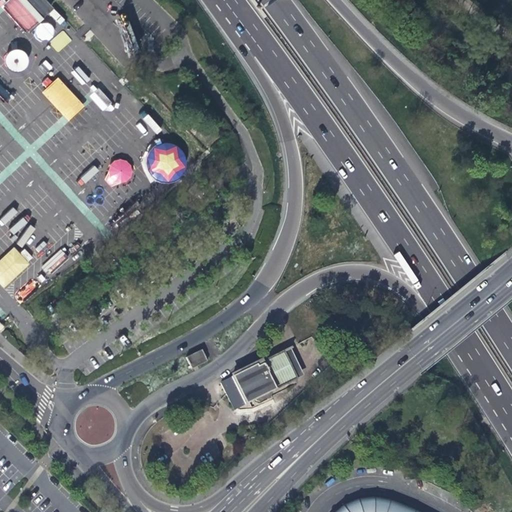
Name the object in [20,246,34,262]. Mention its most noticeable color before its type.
white vehicle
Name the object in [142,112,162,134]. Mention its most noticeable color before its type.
white truck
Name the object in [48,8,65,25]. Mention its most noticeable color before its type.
white vehicle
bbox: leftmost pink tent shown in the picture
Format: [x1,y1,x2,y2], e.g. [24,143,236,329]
[105,159,134,187]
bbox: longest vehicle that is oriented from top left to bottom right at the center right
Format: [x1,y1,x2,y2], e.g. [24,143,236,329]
[394,252,422,289]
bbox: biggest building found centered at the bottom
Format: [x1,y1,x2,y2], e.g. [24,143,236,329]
[221,358,278,409]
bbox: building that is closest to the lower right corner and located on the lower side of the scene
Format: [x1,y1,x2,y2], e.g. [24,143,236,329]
[268,346,304,388]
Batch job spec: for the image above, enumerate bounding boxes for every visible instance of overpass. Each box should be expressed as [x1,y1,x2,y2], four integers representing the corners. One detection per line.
[216,246,512,512]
